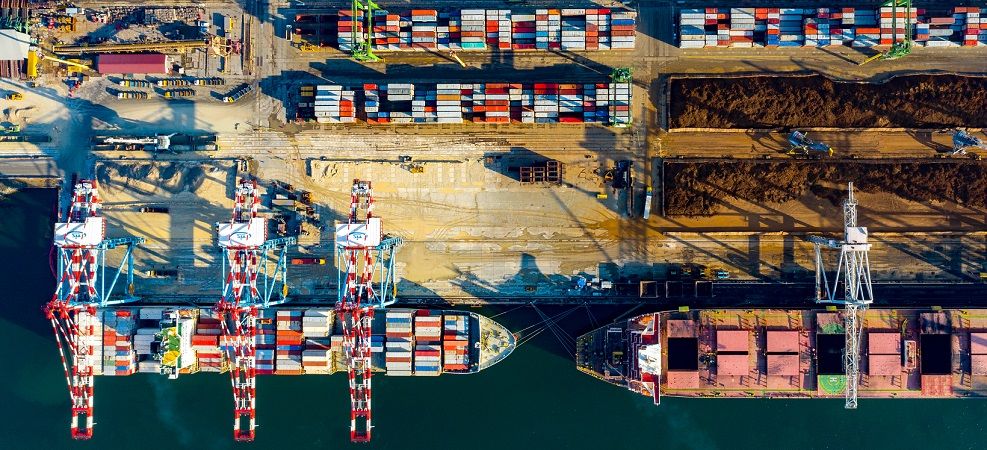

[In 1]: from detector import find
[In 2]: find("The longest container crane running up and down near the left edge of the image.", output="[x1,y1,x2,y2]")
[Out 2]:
[42,185,151,443]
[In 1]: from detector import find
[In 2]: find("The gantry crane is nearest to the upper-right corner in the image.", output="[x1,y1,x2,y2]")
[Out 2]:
[866,0,914,64]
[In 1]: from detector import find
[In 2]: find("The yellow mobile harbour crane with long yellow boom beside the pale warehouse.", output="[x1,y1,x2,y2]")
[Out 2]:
[25,45,89,78]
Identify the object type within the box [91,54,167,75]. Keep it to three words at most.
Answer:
shed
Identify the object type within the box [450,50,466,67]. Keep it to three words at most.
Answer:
vehicle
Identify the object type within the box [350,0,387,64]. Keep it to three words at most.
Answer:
container crane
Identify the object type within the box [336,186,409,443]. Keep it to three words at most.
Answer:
container crane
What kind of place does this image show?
port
